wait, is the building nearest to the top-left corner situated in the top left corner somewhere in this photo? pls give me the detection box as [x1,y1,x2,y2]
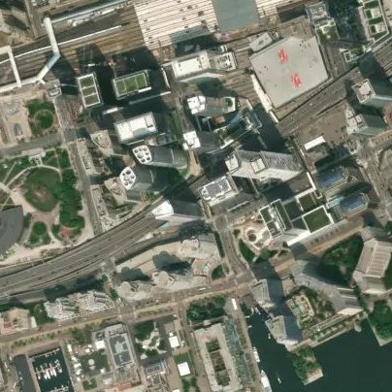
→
[0,6,24,37]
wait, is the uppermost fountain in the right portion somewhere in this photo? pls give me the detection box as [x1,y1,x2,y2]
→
[244,227,261,245]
